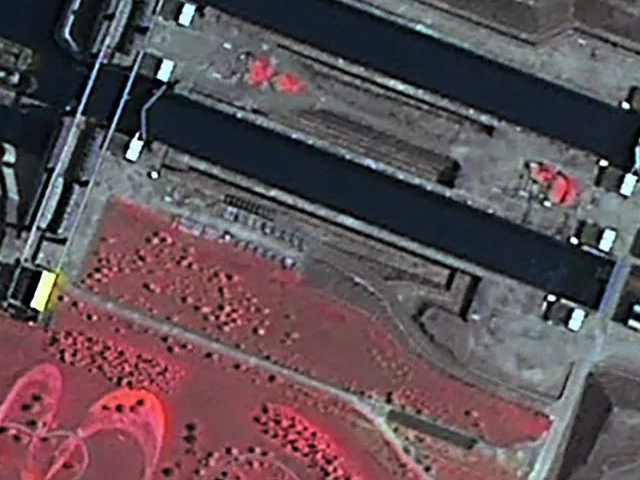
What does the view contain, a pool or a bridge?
bridge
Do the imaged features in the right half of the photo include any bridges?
Yes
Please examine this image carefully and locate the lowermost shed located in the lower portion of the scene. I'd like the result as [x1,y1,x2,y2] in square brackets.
[386,407,479,451]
